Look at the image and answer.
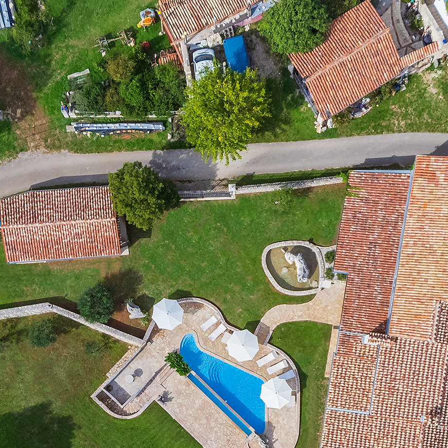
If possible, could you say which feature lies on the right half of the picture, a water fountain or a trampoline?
water fountain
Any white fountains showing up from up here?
Yes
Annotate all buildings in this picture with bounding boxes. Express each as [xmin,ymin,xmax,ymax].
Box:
[286,0,440,127]
[319,156,448,448]
[0,184,122,265]
[158,0,258,65]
